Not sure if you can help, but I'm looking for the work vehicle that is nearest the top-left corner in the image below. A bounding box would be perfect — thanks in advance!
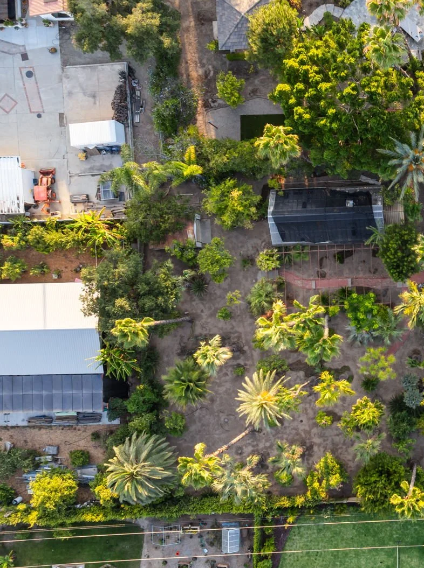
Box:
[31,169,57,219]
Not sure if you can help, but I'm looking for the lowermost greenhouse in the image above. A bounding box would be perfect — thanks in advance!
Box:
[222,526,242,554]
